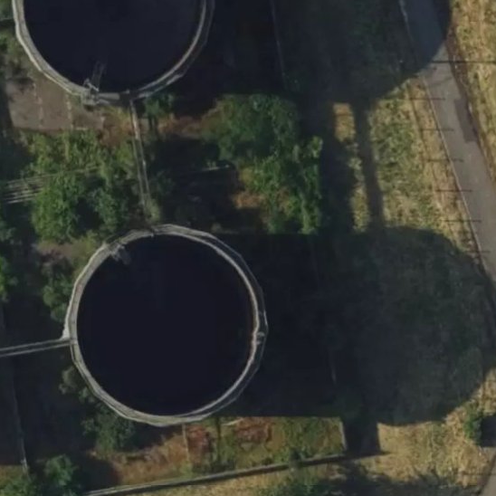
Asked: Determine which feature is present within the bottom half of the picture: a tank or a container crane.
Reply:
tank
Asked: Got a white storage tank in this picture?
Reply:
No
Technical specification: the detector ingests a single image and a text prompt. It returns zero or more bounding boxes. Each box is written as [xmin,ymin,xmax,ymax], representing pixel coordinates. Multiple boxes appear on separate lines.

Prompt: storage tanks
[14,0,212,106]
[63,225,266,424]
